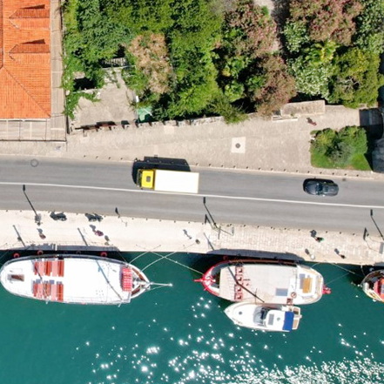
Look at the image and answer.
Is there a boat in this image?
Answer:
Yes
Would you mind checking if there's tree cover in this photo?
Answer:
Yes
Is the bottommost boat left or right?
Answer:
right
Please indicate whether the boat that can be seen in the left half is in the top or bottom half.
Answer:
bottom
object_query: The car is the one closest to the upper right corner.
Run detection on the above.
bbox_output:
[302,179,338,196]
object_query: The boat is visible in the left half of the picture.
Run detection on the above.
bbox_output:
[0,250,173,305]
